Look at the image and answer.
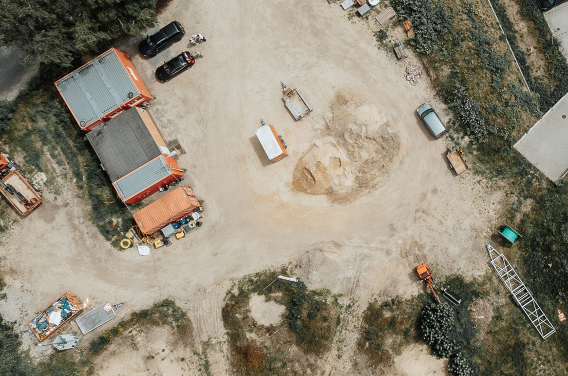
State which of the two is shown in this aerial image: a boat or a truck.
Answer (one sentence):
It is a truck that can be seen here.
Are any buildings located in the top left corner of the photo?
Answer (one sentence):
Yes, a building shows up in the top left corner of the photo.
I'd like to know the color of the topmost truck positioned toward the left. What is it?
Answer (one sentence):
The topmost truck positioned toward the left looks black in the image.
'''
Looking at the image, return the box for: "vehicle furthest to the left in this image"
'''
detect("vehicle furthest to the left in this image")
[0,150,42,219]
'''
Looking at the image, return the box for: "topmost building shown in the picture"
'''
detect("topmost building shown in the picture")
[55,48,154,131]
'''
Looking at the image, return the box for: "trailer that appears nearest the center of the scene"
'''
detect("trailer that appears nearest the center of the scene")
[256,121,288,163]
